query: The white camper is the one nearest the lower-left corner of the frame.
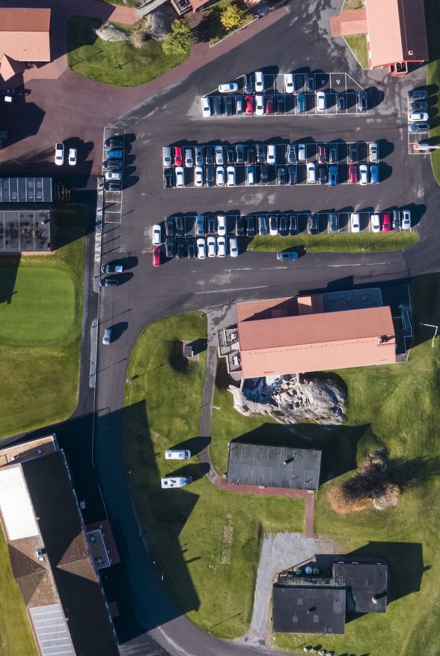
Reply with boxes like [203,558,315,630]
[163,476,189,488]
